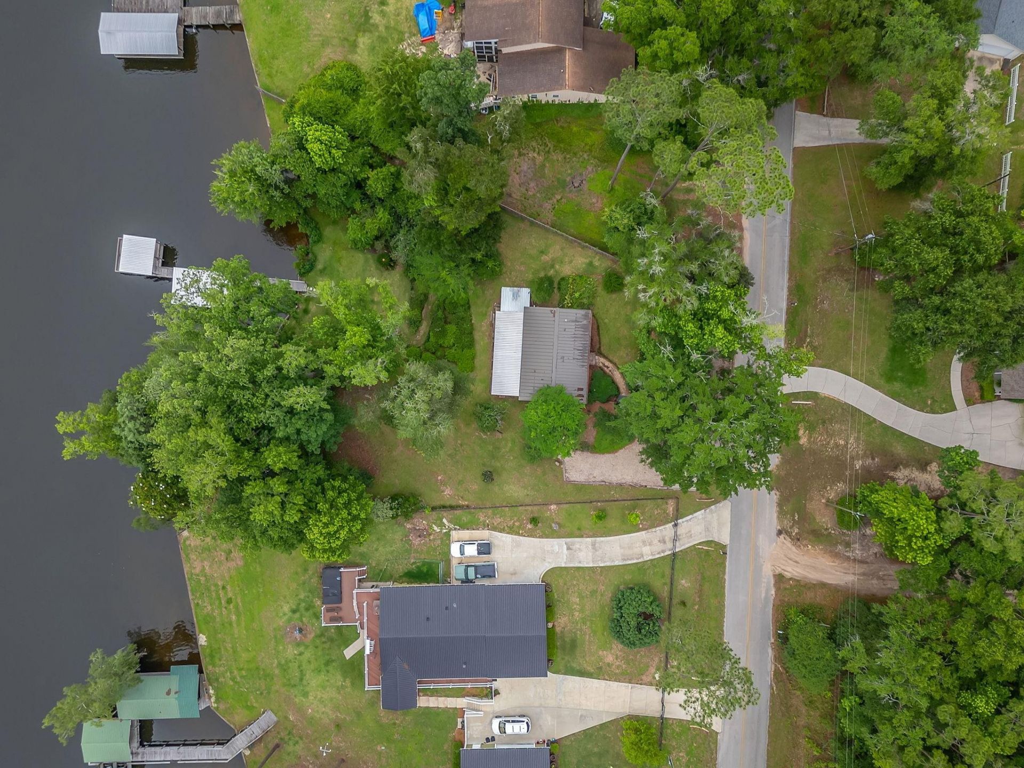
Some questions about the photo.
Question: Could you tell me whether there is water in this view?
Yes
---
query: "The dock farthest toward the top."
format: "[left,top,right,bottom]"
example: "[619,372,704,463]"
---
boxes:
[113,0,243,61]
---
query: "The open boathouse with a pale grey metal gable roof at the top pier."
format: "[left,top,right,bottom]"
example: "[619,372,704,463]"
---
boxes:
[99,13,188,65]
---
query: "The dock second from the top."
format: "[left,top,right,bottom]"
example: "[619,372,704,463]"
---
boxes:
[115,237,174,279]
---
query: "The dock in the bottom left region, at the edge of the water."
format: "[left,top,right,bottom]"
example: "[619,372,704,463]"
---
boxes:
[85,671,280,768]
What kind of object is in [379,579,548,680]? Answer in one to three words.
house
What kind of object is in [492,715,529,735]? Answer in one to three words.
car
